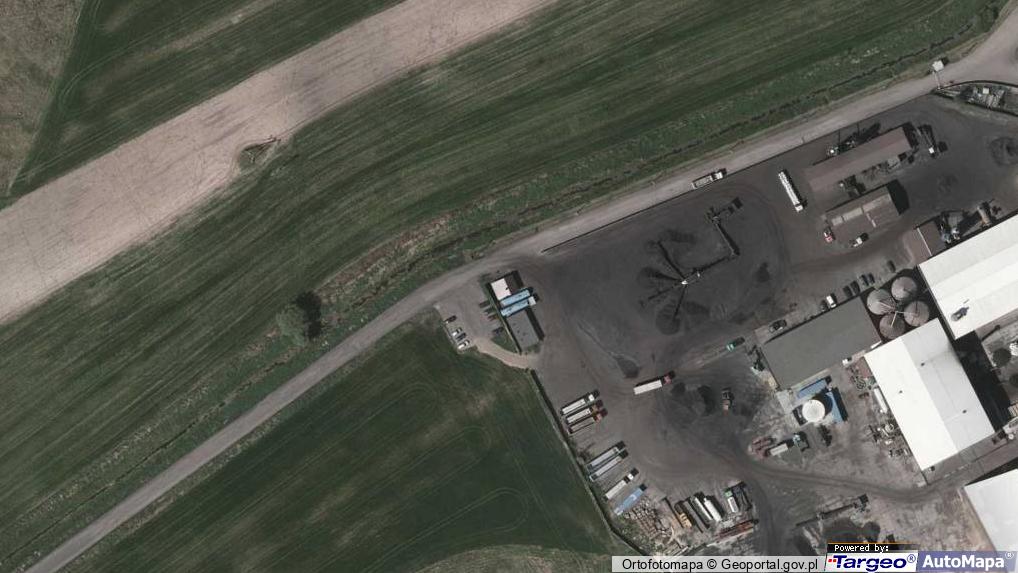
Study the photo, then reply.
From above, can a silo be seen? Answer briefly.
Yes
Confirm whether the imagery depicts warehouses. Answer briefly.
Yes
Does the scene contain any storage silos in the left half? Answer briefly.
No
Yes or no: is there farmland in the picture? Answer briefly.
Yes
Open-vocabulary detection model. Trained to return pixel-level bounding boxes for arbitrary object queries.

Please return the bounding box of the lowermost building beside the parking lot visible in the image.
[508,311,539,350]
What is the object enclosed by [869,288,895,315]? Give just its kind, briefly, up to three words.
silo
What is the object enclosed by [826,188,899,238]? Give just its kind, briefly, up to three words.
shed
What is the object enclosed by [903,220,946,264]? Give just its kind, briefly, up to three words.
building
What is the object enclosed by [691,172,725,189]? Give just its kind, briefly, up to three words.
vehicle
